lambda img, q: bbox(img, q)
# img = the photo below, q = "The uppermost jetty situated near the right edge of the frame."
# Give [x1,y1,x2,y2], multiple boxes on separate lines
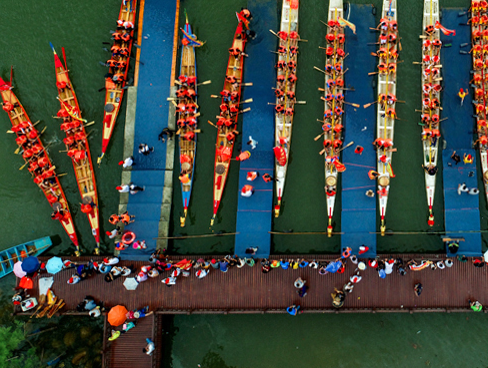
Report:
[441,8,481,259]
